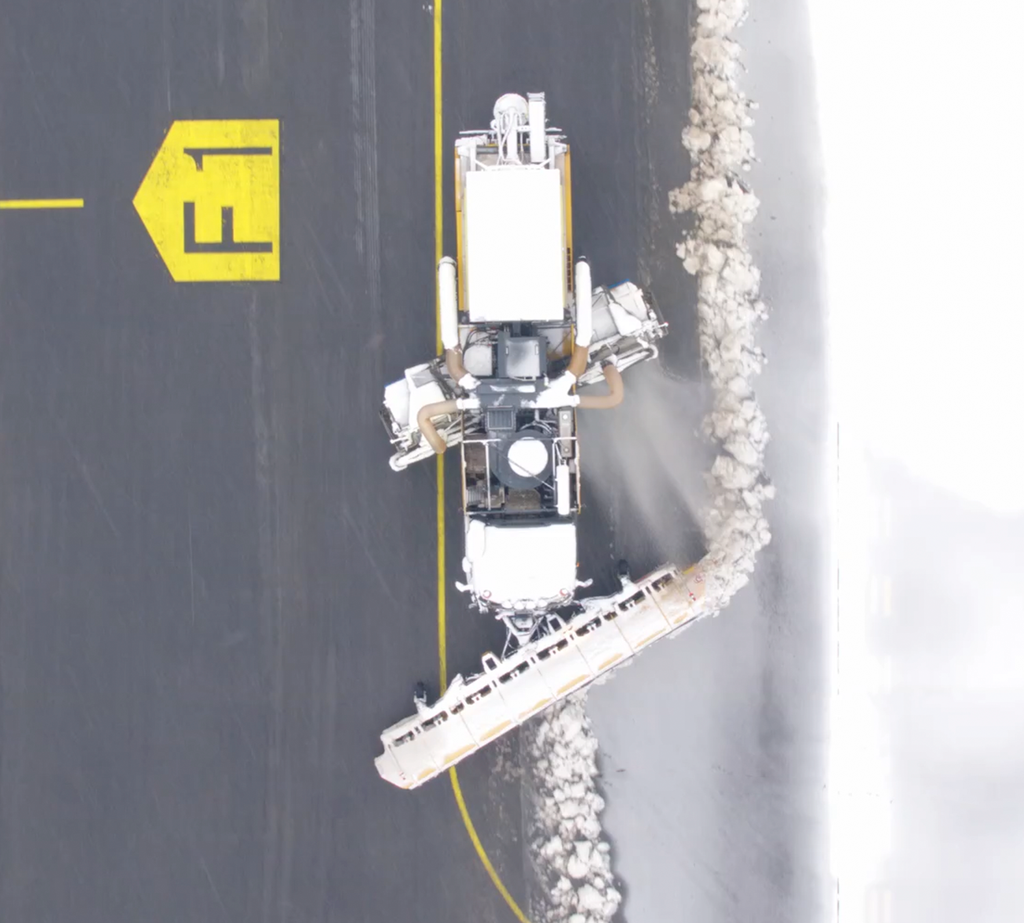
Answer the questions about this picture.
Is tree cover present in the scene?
No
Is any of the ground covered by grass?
No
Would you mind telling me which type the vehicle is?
truck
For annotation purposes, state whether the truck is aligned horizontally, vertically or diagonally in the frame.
vertically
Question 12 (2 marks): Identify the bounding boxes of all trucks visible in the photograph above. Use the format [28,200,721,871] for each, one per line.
[375,92,708,792]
